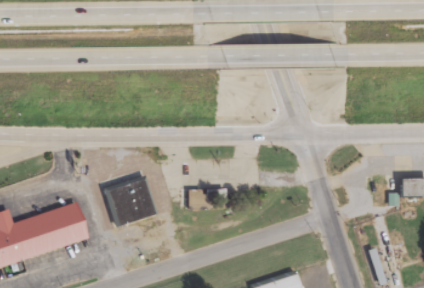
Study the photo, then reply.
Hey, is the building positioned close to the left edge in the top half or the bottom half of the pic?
bottom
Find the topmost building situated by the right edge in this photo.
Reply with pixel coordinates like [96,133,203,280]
[398,178,424,196]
